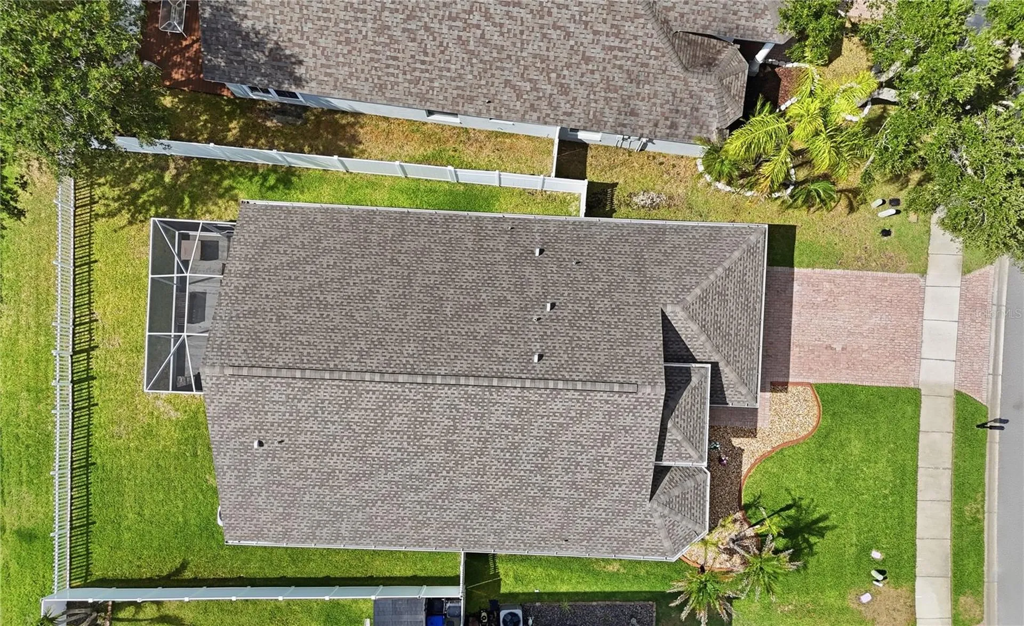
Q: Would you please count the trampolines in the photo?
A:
zero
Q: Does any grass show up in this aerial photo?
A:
Yes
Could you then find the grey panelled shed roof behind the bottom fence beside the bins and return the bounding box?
[375,597,427,626]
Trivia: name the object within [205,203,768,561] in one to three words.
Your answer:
house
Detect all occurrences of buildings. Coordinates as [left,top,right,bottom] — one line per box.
[201,0,793,158]
[205,203,768,561]
[375,597,427,626]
